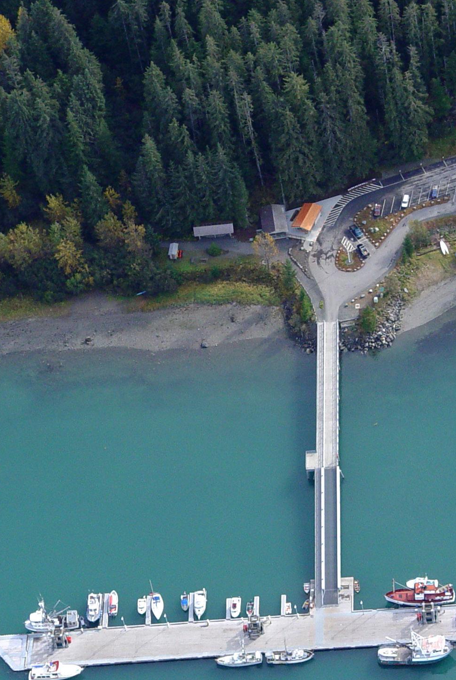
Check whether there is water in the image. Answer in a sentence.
Yes, water shows up in the scene.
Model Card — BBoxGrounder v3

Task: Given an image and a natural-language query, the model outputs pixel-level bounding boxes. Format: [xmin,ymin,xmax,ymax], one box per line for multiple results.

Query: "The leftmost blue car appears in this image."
[348,224,365,240]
